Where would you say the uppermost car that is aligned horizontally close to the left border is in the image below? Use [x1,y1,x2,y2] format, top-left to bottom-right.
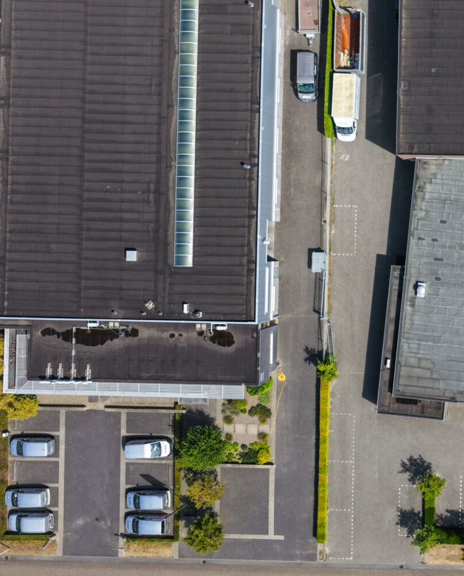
[11,435,59,458]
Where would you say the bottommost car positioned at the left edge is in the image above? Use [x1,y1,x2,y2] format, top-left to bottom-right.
[9,509,56,534]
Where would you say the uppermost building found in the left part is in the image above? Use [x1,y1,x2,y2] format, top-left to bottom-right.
[0,0,290,338]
